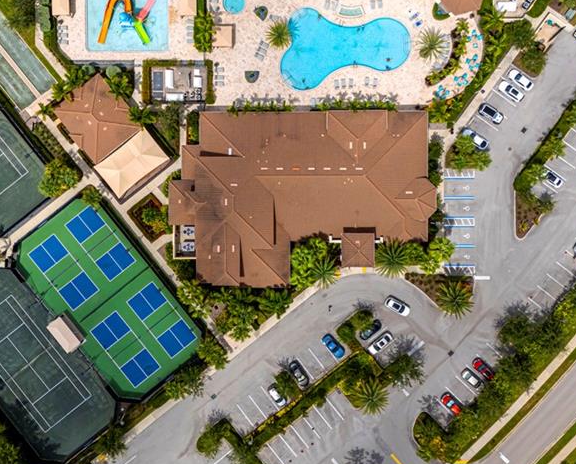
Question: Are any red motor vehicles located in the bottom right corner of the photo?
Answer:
Yes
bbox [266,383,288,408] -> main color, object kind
white car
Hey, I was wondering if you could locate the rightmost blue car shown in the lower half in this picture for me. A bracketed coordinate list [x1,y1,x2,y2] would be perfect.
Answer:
[322,333,345,358]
